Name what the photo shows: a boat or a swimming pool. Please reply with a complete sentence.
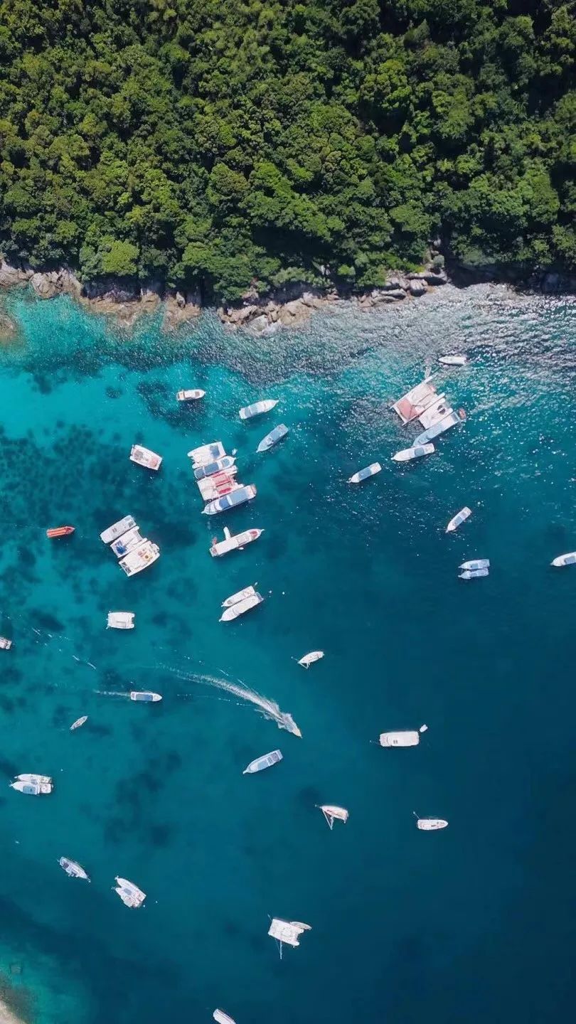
It is a boat that can be seen here.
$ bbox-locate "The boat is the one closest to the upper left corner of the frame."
[176,388,205,401]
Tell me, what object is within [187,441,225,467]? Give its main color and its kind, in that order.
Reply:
white boat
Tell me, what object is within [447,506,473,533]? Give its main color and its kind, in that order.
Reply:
white boat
